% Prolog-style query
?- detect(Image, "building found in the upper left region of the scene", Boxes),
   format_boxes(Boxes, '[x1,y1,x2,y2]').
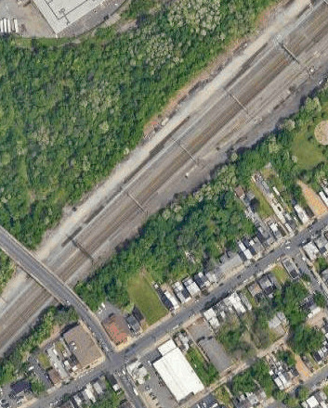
[34,0,109,33]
